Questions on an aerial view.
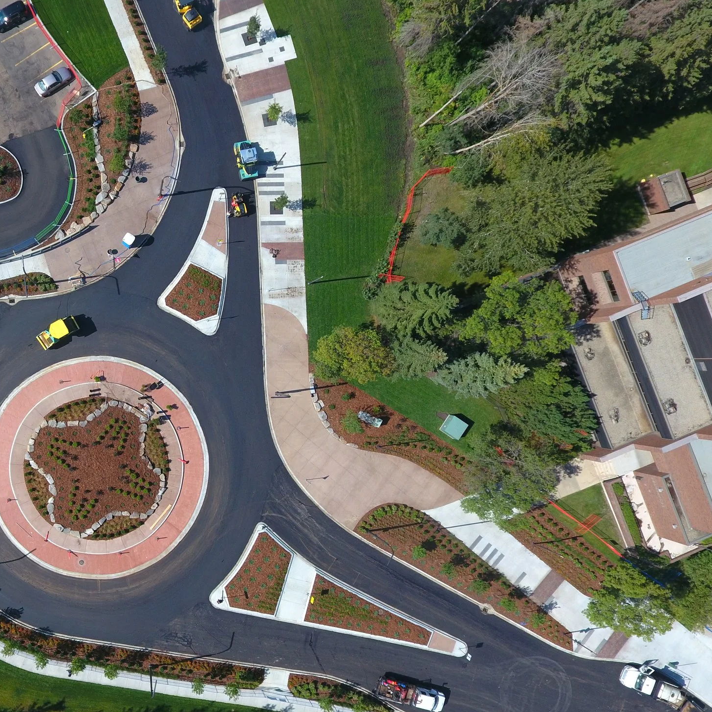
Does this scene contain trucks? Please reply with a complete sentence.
Yes, this view includes a truck.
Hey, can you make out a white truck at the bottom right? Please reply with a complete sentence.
Yes, I can see a white truck at the bottom right.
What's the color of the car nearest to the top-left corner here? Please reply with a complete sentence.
The car nearest to the top-left corner is black.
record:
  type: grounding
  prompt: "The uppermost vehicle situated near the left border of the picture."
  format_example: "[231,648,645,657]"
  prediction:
[0,1,35,32]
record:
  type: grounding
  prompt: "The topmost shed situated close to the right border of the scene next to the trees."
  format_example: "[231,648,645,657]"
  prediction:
[639,169,692,213]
